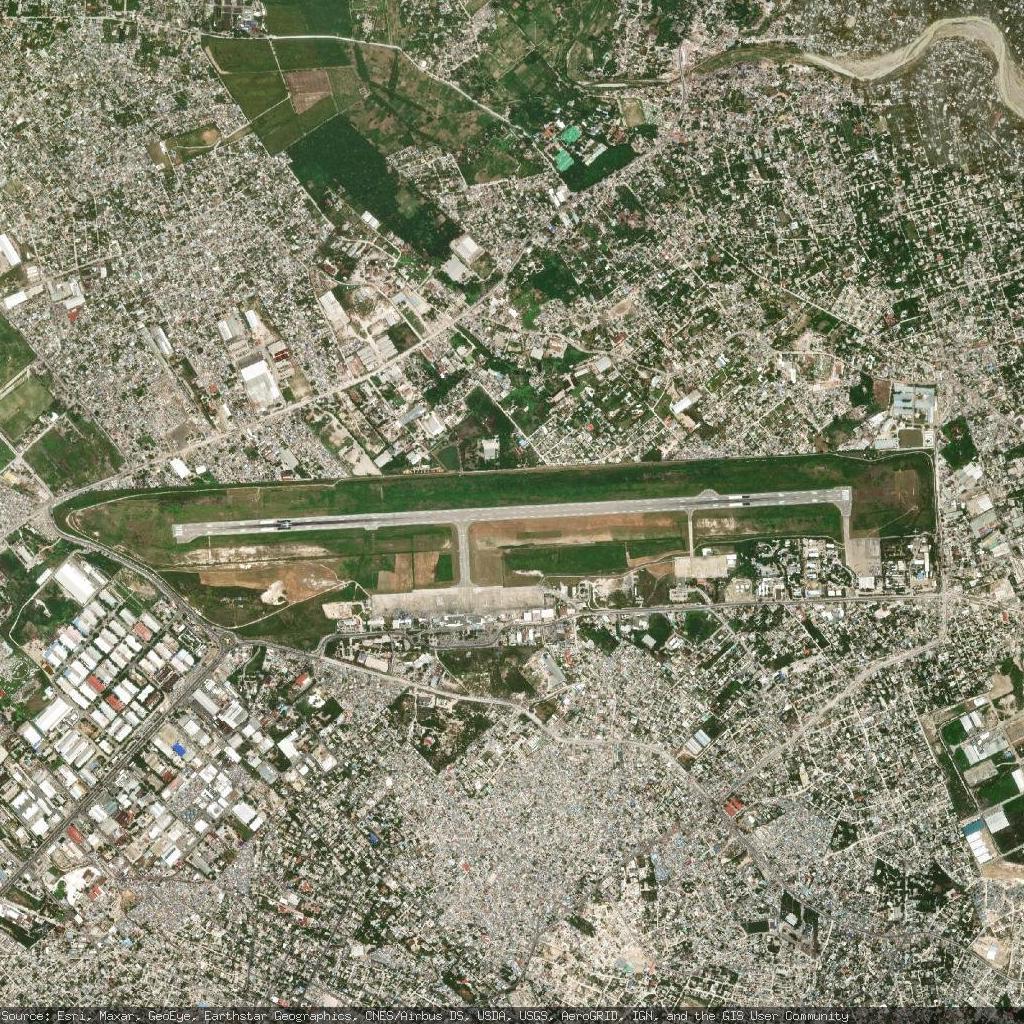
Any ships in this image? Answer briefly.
No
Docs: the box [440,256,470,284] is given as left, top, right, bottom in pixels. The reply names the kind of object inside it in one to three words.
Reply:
building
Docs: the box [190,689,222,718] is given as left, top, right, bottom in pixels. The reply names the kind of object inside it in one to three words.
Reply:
building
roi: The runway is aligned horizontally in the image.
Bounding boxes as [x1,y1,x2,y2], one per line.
[172,486,852,543]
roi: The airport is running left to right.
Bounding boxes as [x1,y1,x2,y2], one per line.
[55,450,937,630]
